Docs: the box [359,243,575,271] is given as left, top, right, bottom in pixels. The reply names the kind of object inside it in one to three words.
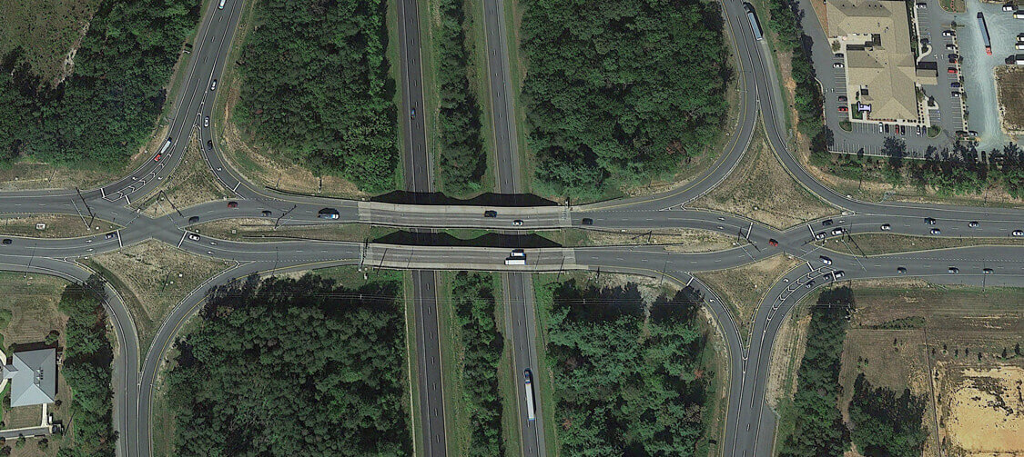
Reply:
bridge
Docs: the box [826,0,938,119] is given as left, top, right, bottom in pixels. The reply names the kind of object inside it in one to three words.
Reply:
building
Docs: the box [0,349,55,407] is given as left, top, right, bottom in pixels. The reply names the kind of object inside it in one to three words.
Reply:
house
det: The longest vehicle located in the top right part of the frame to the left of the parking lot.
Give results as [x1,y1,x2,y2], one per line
[744,4,763,40]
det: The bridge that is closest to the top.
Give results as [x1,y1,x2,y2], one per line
[358,201,572,228]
